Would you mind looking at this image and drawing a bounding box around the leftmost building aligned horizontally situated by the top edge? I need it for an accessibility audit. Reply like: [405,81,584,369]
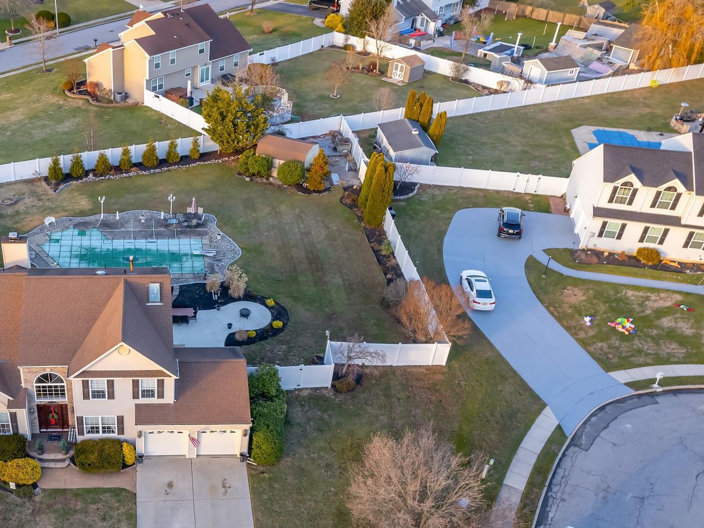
[72,2,257,103]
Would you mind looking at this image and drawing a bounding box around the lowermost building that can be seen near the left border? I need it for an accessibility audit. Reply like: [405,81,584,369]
[0,230,254,464]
